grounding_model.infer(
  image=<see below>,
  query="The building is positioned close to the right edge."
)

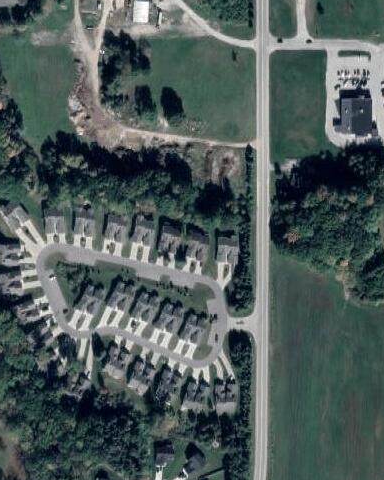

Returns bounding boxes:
[335,96,377,138]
